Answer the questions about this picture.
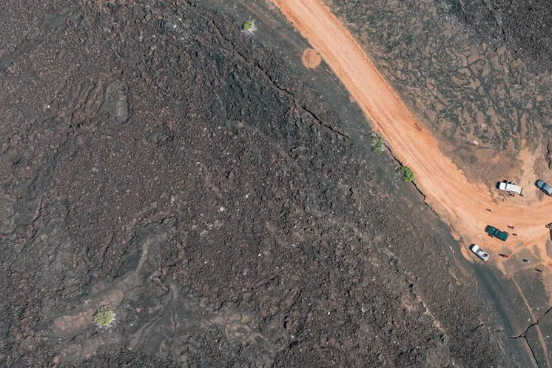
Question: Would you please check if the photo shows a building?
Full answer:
No, I can see no building in this picture.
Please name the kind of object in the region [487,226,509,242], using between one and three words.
vehicle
